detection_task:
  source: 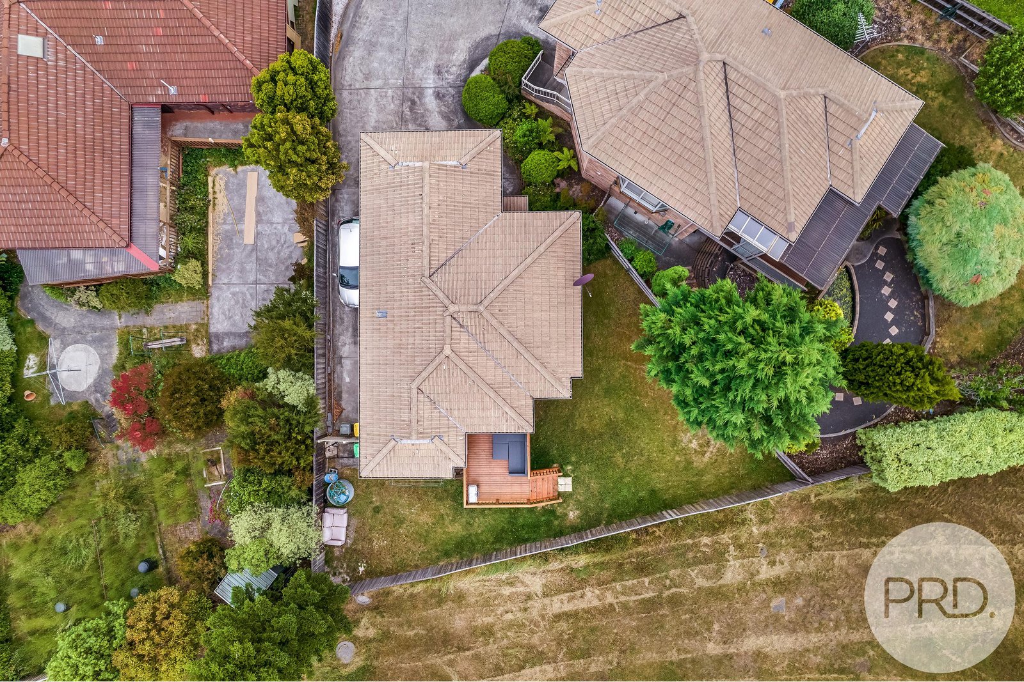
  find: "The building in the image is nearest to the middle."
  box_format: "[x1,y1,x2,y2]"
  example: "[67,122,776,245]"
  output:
[357,127,585,481]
